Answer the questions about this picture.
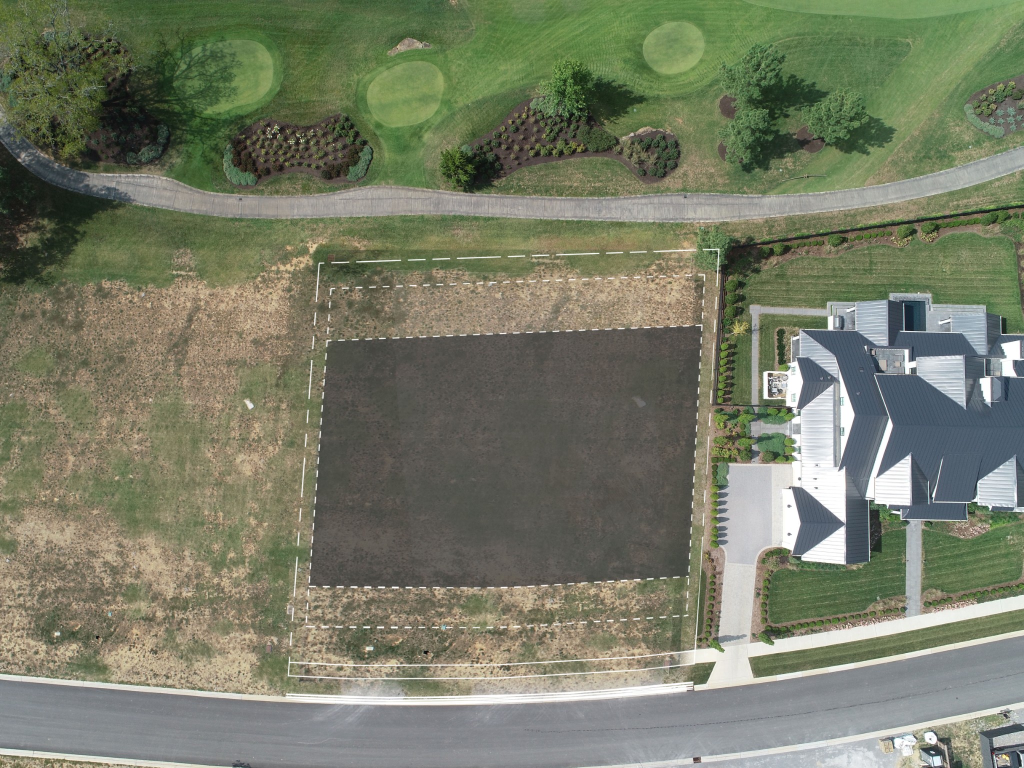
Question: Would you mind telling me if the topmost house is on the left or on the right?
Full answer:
It is on the right.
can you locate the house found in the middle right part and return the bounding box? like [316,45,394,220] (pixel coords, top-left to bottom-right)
[781,299,1024,566]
